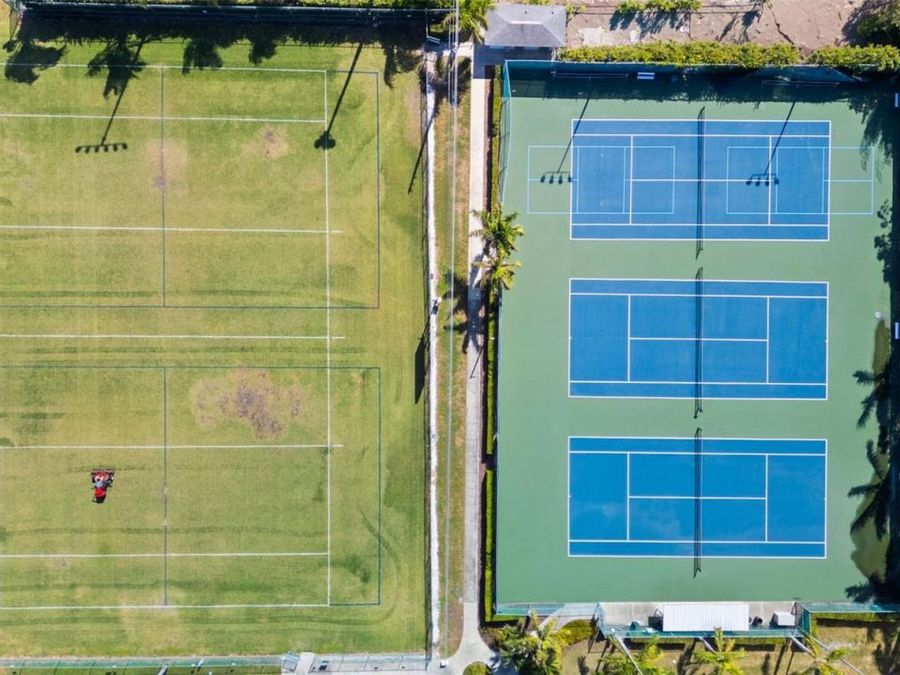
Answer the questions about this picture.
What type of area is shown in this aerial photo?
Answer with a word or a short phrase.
sports ground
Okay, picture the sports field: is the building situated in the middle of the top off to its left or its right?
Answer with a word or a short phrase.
to its right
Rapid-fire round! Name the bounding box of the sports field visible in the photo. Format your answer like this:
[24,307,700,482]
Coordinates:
[0,22,427,657]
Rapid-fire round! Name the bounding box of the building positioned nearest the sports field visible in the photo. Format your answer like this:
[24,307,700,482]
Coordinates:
[484,4,566,52]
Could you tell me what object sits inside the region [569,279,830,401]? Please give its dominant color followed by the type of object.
blue tennis court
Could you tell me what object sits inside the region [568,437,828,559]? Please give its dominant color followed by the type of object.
blue tennis court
